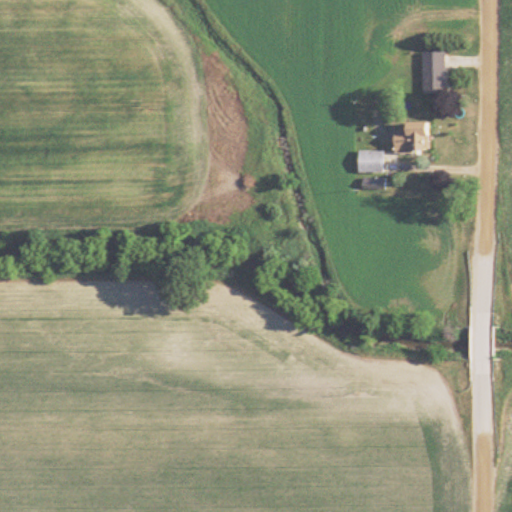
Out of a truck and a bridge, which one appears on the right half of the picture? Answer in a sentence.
The feature located on the right half of the picture is a bridge.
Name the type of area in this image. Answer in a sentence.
The picture captures farmland.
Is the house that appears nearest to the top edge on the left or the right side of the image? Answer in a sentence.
The house that appears nearest to the top edge appears in the right half of the scene.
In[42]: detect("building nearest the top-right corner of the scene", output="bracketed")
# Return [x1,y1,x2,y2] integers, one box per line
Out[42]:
[422,52,445,92]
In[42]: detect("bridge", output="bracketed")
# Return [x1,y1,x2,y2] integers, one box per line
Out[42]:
[464,327,496,359]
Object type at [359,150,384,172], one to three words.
shed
